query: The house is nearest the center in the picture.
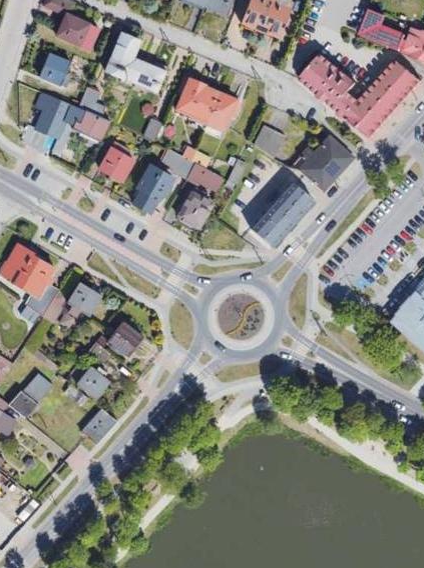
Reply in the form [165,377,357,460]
[176,189,215,228]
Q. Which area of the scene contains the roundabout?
center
